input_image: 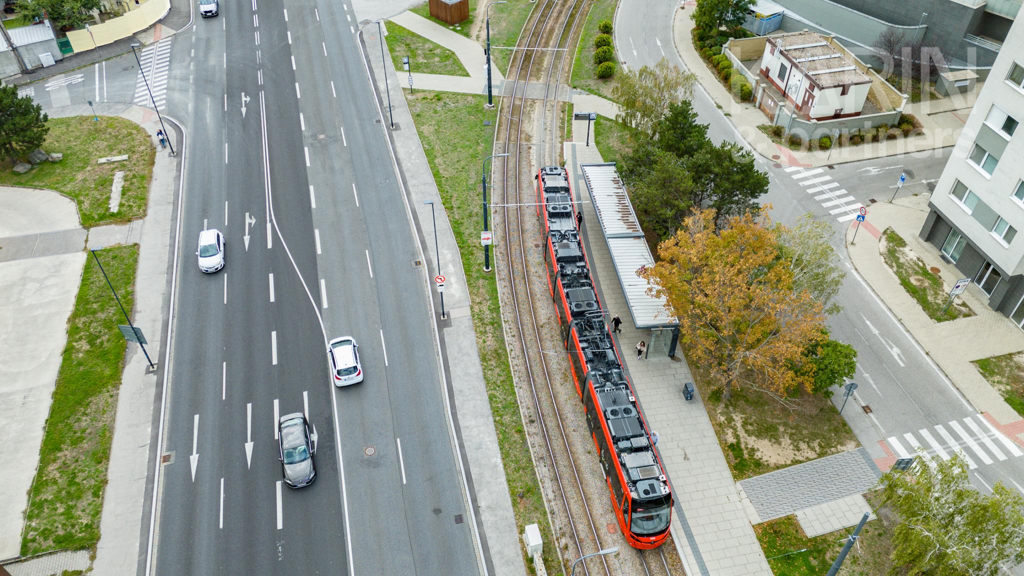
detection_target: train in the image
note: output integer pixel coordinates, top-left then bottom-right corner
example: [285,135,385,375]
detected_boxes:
[535,166,677,548]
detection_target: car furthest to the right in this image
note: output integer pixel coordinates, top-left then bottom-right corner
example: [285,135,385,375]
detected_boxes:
[323,330,362,387]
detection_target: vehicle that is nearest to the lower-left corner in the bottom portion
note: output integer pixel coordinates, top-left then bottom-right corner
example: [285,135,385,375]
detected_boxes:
[274,410,316,488]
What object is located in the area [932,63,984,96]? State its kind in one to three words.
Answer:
shed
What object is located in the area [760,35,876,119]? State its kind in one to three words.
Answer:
house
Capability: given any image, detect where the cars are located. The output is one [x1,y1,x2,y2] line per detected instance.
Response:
[274,410,316,488]
[323,330,362,387]
[192,226,225,272]
[197,0,219,15]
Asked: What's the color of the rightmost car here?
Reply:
white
